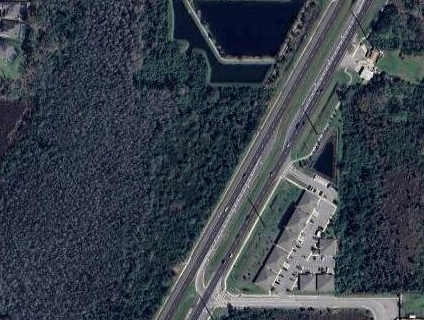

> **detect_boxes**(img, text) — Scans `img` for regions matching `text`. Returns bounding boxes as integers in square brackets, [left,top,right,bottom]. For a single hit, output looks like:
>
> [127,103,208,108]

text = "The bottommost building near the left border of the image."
[0,42,22,64]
